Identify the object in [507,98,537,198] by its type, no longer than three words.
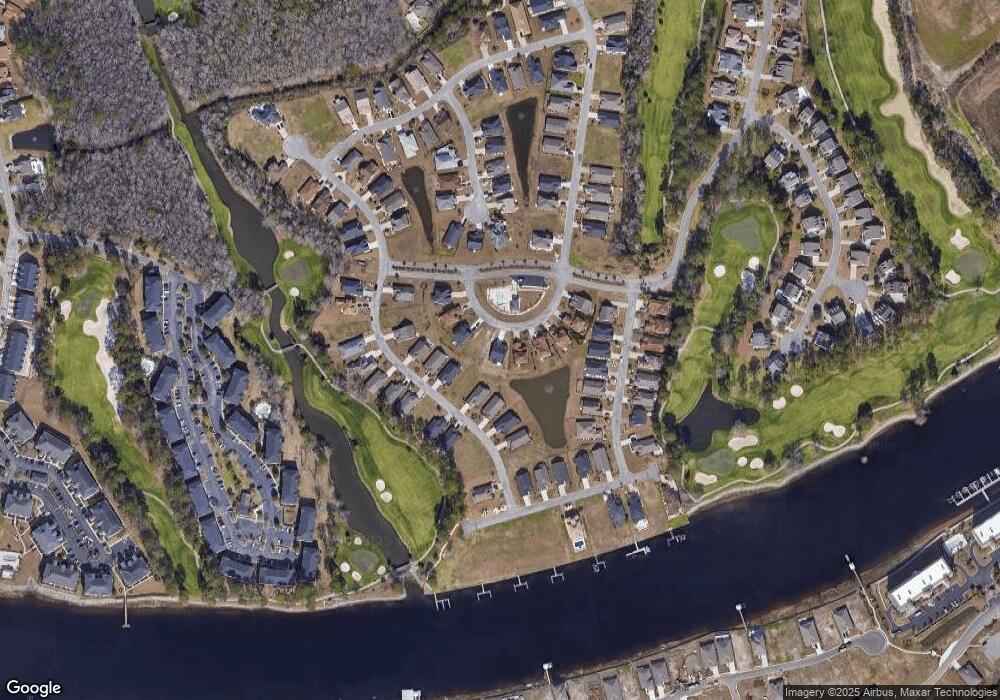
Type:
pond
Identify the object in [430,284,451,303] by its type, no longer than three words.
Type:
house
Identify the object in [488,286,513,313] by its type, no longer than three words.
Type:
swimming pool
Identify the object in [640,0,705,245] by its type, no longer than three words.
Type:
golf course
